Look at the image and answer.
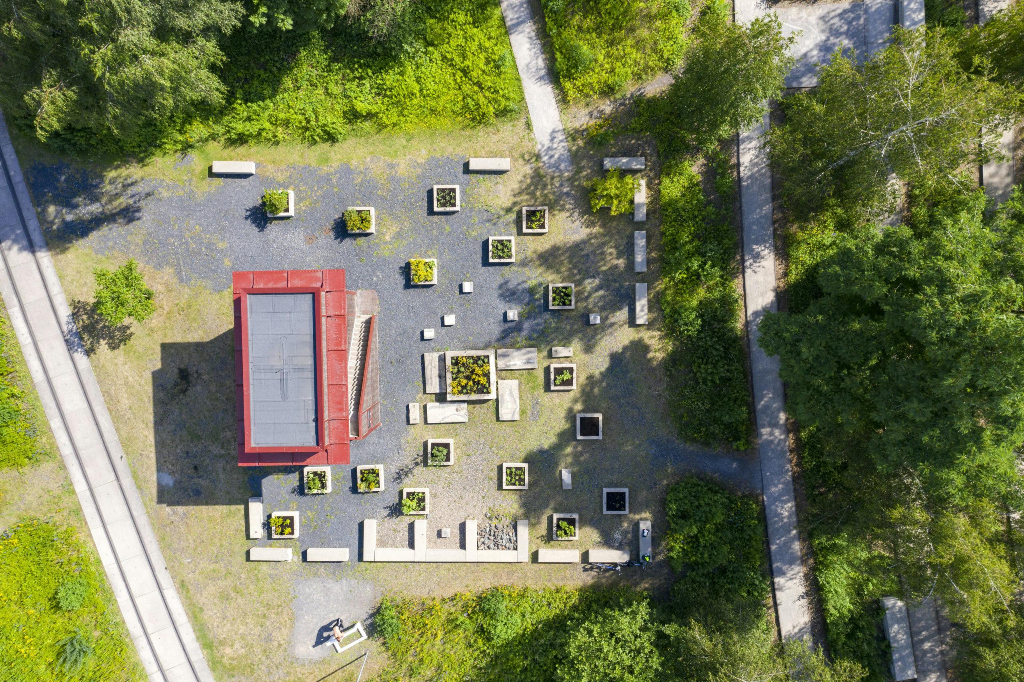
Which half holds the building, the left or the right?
left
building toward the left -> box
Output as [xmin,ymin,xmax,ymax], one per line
[234,269,382,466]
